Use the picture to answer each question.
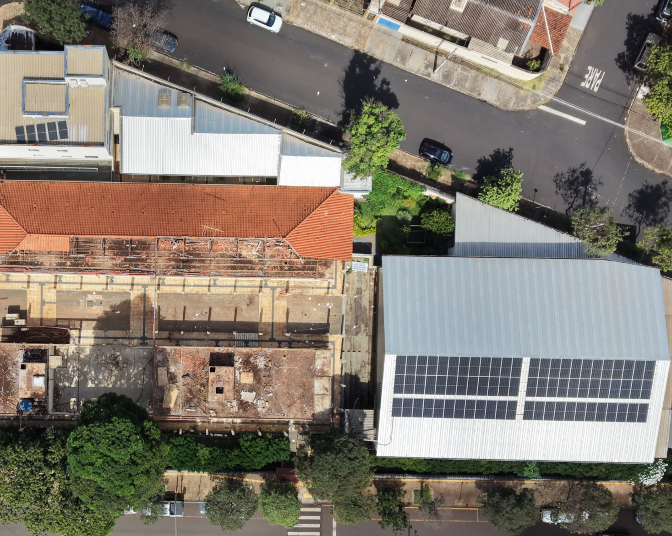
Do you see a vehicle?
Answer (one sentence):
Yes, this view includes a vehicle.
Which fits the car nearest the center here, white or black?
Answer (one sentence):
The car nearest the center is black.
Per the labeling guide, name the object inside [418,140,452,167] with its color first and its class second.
black car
